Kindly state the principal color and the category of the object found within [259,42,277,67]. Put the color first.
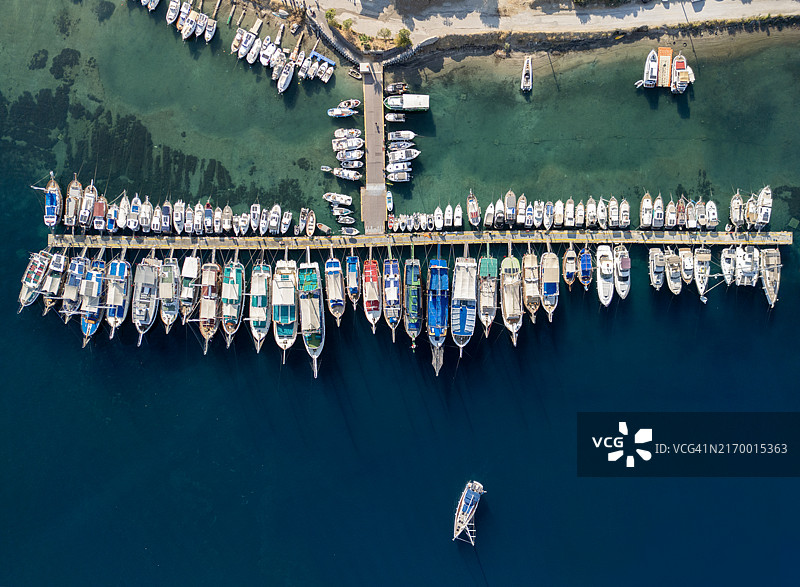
white boat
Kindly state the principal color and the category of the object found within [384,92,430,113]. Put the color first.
white ship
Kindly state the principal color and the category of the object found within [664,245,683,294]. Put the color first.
white boat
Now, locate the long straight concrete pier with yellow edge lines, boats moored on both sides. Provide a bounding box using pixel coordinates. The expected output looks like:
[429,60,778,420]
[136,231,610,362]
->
[48,231,792,247]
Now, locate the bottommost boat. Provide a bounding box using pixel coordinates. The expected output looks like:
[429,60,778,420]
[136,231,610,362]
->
[452,481,487,540]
